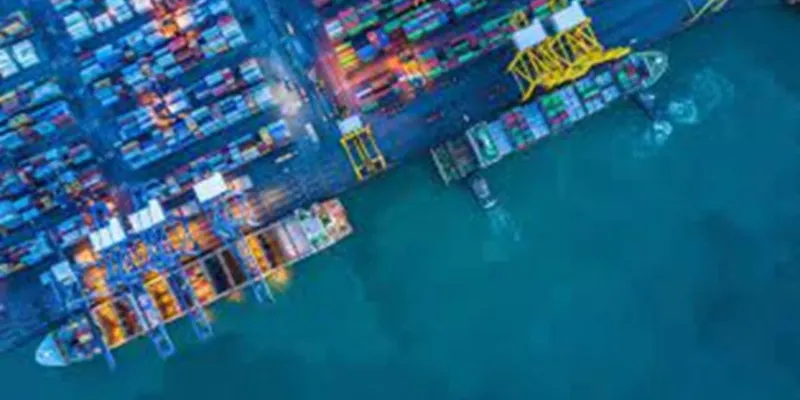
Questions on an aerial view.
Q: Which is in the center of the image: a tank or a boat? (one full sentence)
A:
The feature located in the center of the image is a boat.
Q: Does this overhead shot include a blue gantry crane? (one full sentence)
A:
Yes, you can see a blue gantry crane in this photo.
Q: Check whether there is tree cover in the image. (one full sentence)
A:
No, no tree cover is visible.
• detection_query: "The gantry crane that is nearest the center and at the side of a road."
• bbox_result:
[336,109,390,182]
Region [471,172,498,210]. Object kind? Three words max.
boat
